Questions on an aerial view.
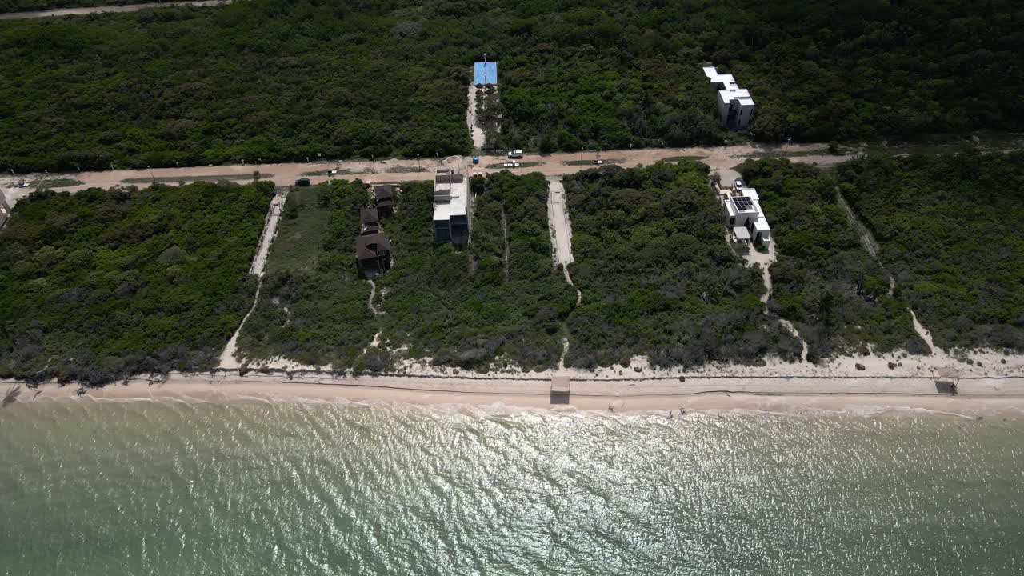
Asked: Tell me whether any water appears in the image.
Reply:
Yes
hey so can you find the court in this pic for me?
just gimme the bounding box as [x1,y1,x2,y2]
[473,61,497,84]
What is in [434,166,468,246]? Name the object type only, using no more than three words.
building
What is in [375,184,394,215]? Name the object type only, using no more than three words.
shed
